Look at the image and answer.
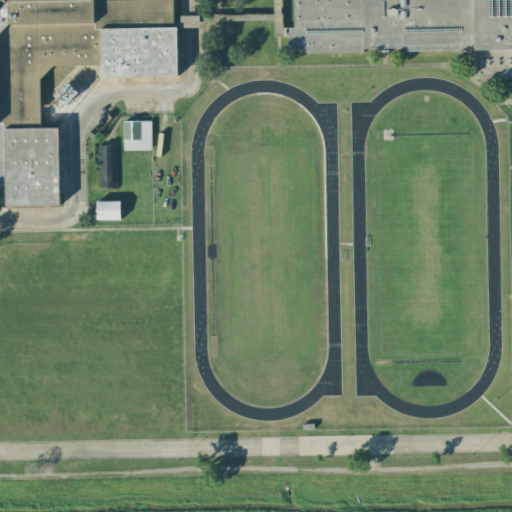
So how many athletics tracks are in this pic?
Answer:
2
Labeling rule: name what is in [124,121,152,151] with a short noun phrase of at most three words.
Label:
shed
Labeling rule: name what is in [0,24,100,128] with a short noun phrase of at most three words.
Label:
building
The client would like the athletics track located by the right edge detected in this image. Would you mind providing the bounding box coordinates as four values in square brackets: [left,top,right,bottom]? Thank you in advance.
[352,77,502,418]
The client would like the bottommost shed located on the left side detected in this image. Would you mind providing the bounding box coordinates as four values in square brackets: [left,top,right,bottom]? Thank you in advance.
[96,202,121,220]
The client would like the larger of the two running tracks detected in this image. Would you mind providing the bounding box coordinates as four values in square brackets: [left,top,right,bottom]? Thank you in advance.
[191,80,343,421]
